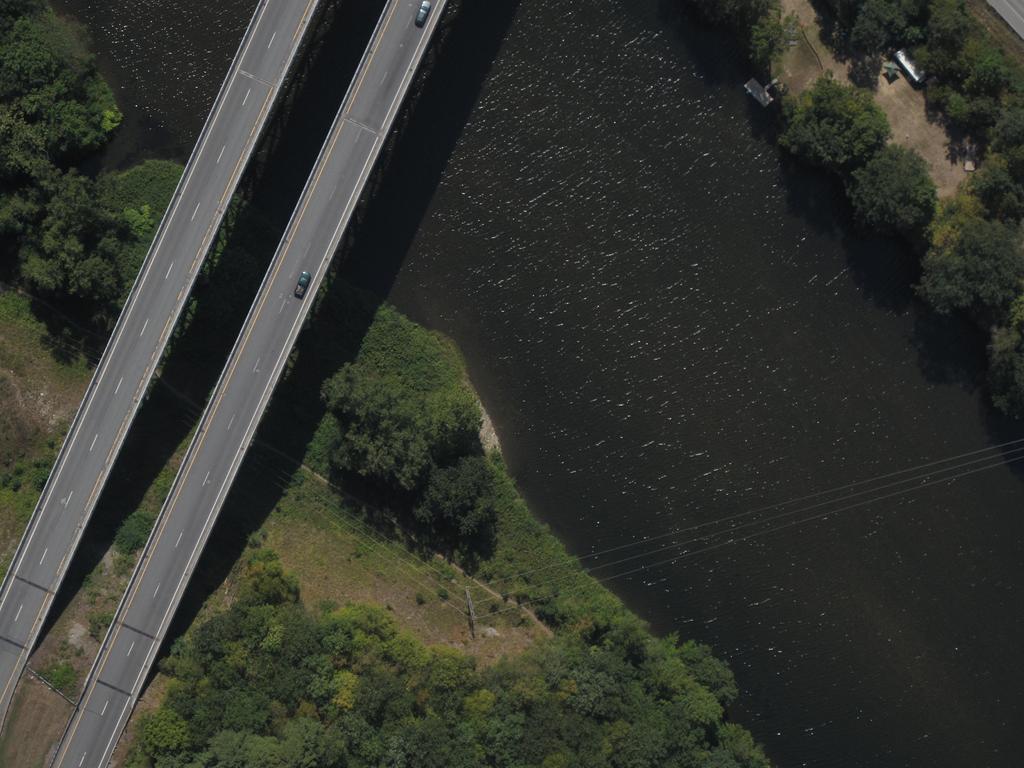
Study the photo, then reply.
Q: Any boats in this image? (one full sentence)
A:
No, I can't see a single boat in this photo.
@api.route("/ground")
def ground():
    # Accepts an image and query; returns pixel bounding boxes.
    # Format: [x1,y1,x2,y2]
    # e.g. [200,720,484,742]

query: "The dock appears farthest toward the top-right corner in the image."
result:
[743,78,777,107]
